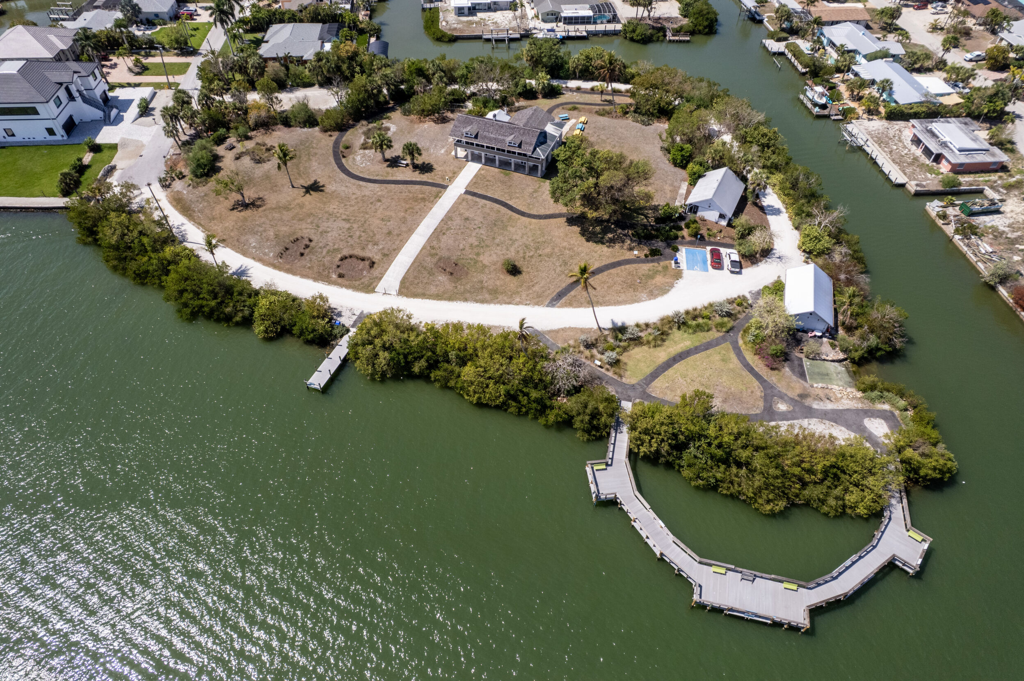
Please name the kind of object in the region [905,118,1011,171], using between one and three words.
house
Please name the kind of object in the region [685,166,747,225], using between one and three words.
house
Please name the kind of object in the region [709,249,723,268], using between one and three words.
car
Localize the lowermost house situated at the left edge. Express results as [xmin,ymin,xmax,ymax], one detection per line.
[0,54,116,141]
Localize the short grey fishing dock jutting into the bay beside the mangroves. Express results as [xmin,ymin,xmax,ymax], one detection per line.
[303,328,356,399]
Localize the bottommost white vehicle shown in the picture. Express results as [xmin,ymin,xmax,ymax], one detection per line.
[726,249,742,271]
